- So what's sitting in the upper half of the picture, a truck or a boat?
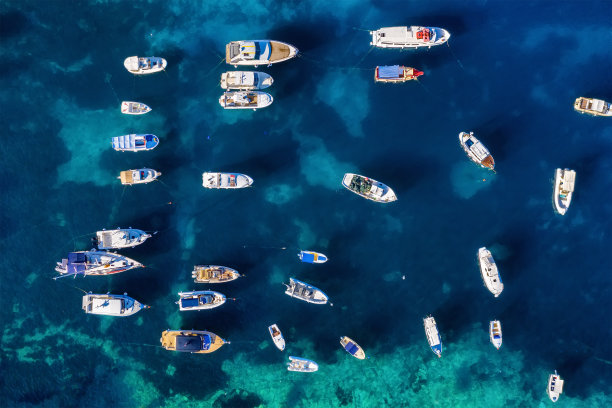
boat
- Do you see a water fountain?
No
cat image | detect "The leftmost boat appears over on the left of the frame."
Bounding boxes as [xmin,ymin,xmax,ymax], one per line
[51,260,67,274]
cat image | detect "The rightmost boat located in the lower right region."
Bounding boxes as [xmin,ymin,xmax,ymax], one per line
[546,371,564,403]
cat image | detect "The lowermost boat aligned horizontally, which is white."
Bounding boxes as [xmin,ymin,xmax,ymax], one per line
[287,356,318,372]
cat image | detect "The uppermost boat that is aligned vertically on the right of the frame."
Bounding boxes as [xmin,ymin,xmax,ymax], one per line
[553,165,576,215]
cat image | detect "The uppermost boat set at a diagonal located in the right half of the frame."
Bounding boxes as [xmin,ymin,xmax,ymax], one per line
[458,131,496,170]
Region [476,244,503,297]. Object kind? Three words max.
boat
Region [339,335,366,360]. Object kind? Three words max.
boat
